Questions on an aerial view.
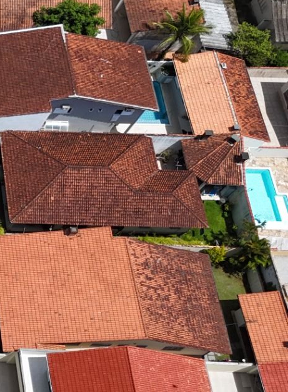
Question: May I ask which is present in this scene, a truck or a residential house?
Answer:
residential house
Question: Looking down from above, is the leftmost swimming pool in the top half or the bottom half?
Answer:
top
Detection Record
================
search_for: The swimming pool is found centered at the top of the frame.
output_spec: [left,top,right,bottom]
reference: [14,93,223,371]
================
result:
[135,78,173,126]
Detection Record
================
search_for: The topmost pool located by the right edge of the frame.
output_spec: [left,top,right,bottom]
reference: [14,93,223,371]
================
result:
[247,164,288,227]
